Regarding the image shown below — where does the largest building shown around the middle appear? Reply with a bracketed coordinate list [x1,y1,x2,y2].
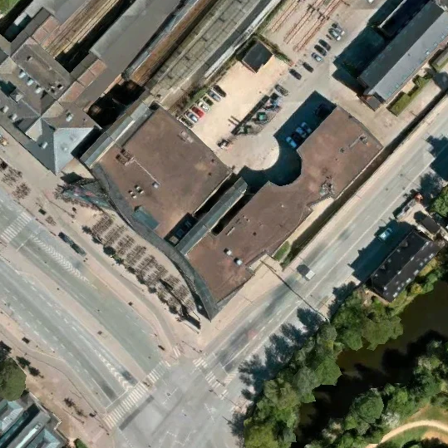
[86,102,374,322]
